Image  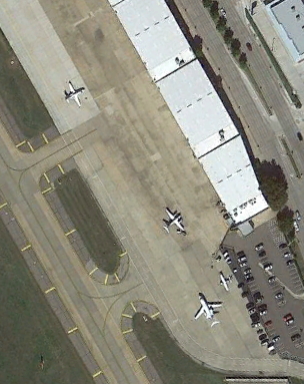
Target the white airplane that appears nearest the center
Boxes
[161,209,185,234]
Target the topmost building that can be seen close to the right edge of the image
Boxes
[265,0,304,64]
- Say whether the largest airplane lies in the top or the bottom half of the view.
bottom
